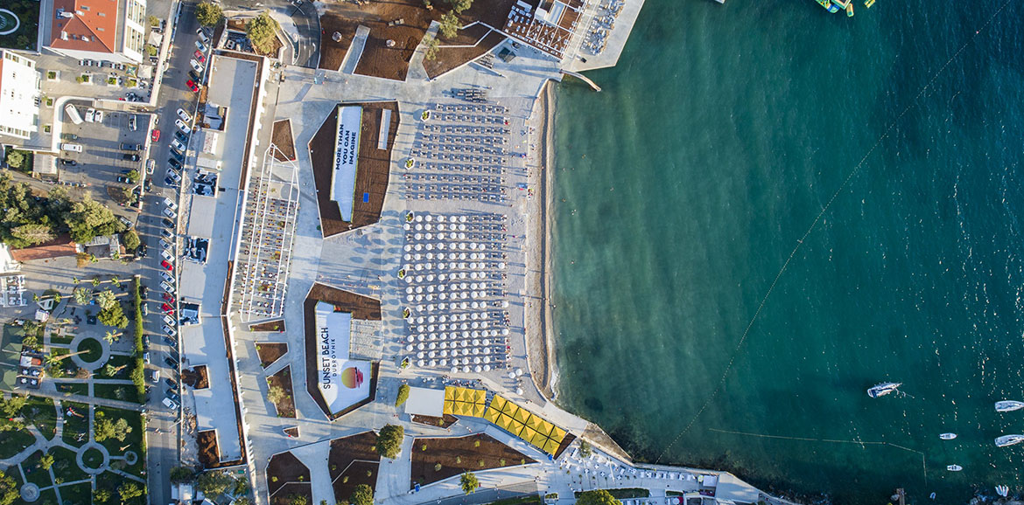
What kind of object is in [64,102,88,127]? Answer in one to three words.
bus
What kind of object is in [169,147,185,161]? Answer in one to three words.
car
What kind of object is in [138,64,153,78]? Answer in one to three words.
umbrella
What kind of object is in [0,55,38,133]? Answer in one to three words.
building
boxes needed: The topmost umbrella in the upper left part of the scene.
[149,31,162,47]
